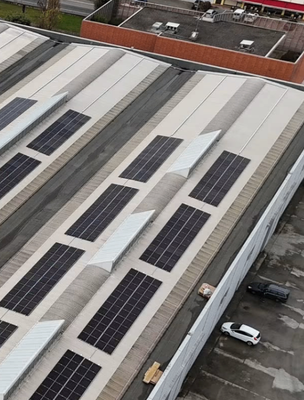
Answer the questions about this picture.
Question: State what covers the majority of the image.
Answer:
buildings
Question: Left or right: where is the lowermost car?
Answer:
right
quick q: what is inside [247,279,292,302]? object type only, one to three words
car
